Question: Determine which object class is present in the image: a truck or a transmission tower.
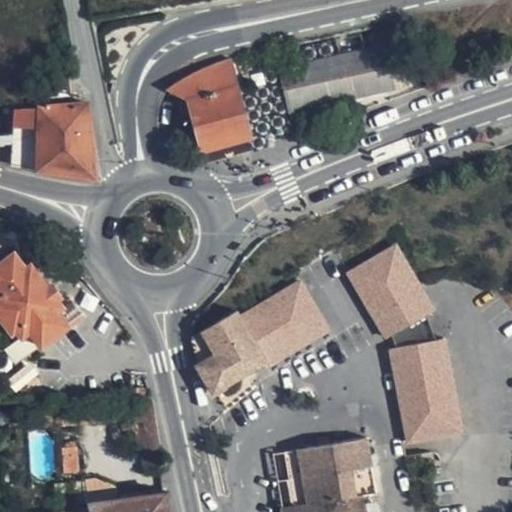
truck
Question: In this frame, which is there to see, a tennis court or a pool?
pool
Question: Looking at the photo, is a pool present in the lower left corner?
Yes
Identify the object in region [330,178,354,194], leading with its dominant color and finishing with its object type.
white car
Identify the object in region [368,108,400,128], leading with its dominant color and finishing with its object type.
white vehicle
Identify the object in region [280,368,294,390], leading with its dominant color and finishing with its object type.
white vehicle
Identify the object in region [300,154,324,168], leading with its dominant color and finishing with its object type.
white car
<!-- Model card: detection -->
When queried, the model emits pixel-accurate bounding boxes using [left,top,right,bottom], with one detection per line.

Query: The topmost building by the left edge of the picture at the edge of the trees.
[12,102,98,182]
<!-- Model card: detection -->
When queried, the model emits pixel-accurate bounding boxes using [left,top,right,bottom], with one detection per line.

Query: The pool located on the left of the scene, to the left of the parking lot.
[28,429,56,482]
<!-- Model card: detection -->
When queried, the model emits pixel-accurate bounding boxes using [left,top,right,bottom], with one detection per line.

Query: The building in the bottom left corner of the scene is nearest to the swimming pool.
[62,442,80,474]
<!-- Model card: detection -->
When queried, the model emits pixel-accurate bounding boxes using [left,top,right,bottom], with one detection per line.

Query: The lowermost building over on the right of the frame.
[272,438,381,512]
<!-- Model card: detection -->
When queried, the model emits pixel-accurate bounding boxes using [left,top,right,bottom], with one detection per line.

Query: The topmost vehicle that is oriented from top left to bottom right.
[321,256,341,280]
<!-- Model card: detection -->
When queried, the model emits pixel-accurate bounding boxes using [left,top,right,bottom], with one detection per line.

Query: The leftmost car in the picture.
[38,358,61,370]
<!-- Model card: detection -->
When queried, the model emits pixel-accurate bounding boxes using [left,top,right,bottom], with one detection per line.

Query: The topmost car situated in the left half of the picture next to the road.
[160,103,172,126]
